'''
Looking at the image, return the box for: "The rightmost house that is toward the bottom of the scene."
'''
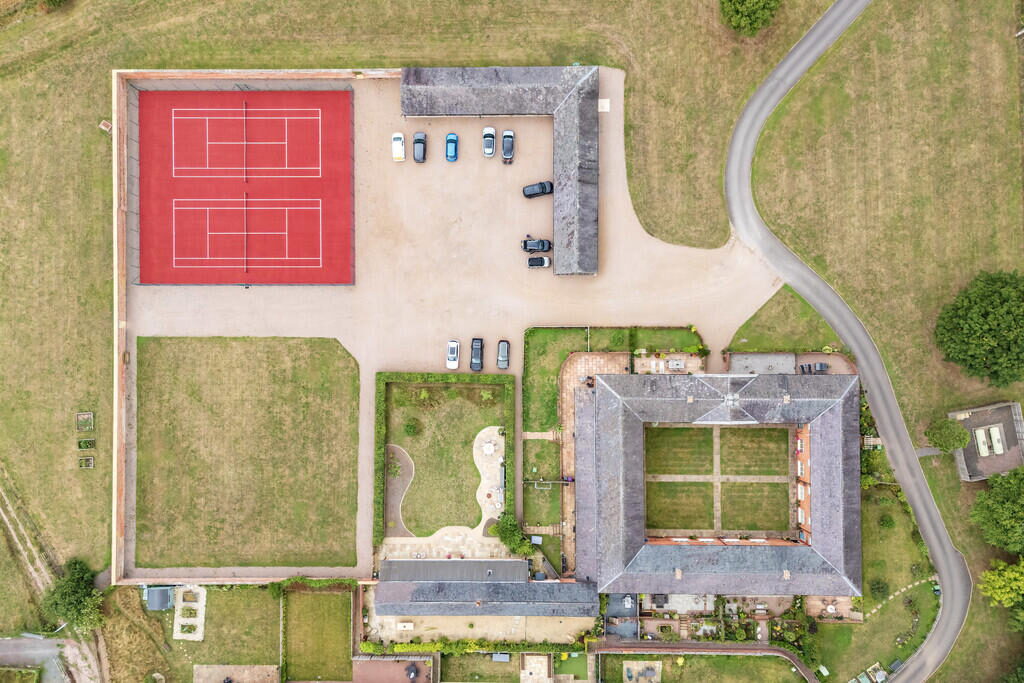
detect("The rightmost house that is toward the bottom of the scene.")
[573,373,861,597]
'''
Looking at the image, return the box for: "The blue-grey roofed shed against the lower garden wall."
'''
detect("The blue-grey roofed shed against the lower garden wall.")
[147,585,175,609]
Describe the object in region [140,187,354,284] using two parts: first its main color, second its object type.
red tennis court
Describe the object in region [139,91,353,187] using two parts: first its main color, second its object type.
red tennis court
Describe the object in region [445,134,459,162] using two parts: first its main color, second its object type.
blue car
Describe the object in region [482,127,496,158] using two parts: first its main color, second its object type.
white car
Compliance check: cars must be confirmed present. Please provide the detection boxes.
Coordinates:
[482,127,496,158]
[447,340,459,369]
[469,338,483,371]
[527,256,552,268]
[502,131,515,160]
[445,134,459,162]
[521,235,552,254]
[413,132,426,164]
[522,181,552,198]
[497,340,509,369]
[391,133,405,163]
